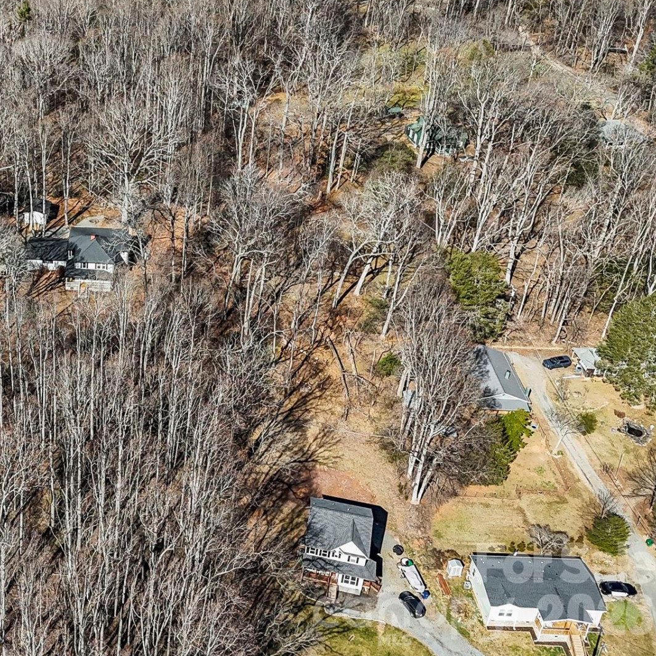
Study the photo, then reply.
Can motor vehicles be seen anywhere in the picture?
Yes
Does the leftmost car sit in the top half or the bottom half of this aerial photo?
bottom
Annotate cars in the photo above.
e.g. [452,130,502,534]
[397,588,432,619]
[599,580,640,598]
[543,353,573,367]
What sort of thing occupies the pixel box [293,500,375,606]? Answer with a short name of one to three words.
house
